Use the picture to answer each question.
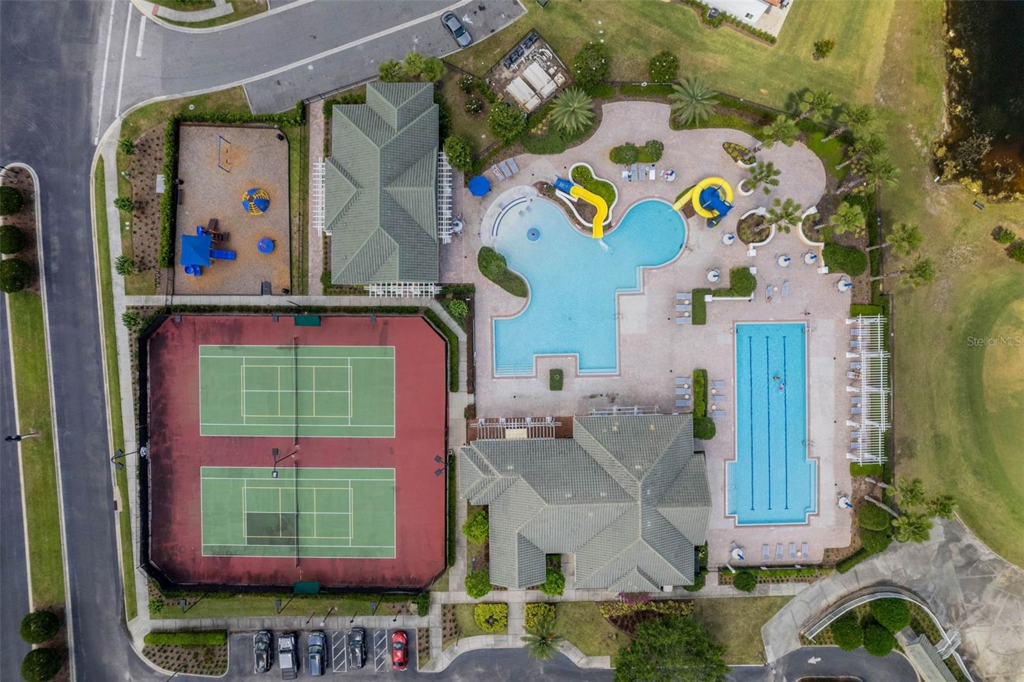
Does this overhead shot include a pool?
Yes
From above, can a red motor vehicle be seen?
Yes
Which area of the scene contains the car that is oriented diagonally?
top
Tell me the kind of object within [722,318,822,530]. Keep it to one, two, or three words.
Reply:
swimming pool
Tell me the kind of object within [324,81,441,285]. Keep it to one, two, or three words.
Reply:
building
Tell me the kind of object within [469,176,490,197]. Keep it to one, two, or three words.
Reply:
umbrella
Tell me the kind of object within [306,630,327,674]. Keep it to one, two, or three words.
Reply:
car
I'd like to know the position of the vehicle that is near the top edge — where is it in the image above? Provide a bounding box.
[441,9,472,50]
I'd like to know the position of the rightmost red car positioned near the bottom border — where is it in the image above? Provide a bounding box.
[390,630,409,670]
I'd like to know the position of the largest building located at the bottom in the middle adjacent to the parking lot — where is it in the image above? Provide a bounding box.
[459,415,713,592]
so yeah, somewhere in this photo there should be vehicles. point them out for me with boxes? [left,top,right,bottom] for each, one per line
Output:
[441,9,472,50]
[277,630,298,678]
[346,626,367,668]
[252,630,274,672]
[390,630,409,670]
[306,630,327,674]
